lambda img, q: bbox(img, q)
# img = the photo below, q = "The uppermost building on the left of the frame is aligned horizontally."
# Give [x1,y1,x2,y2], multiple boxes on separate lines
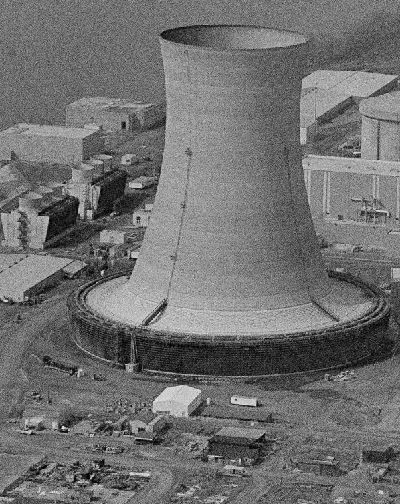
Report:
[67,99,167,144]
